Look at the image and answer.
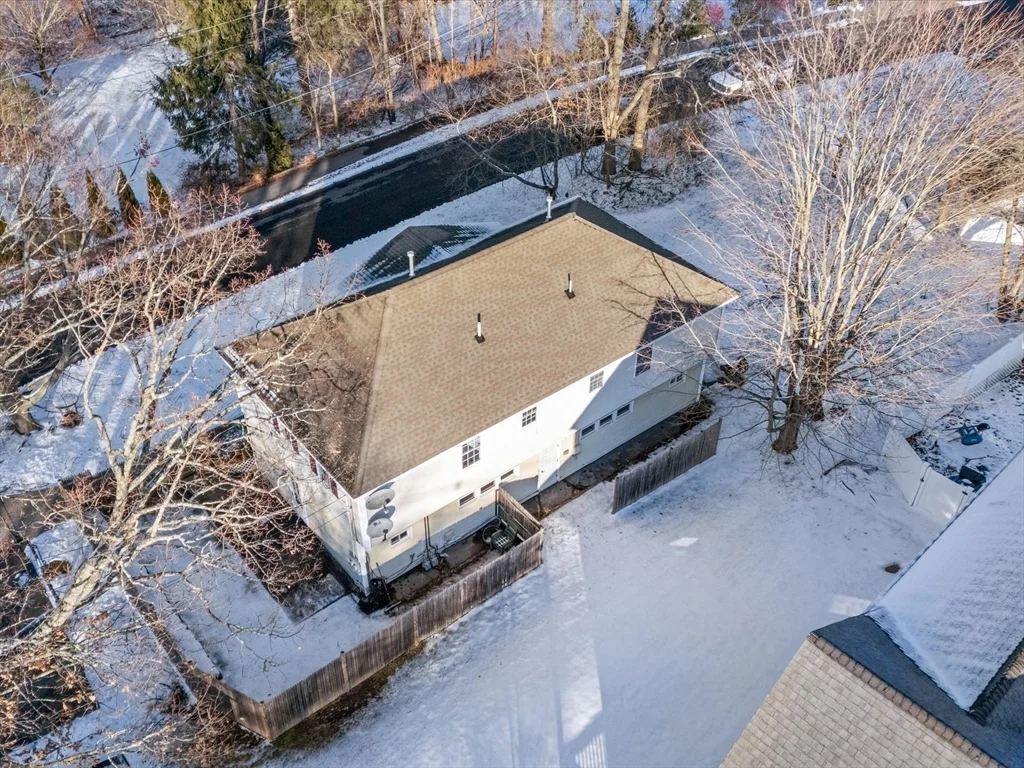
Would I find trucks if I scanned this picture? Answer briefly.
No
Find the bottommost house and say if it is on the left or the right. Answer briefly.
right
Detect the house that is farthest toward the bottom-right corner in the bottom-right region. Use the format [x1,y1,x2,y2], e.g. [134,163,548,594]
[715,446,1024,768]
